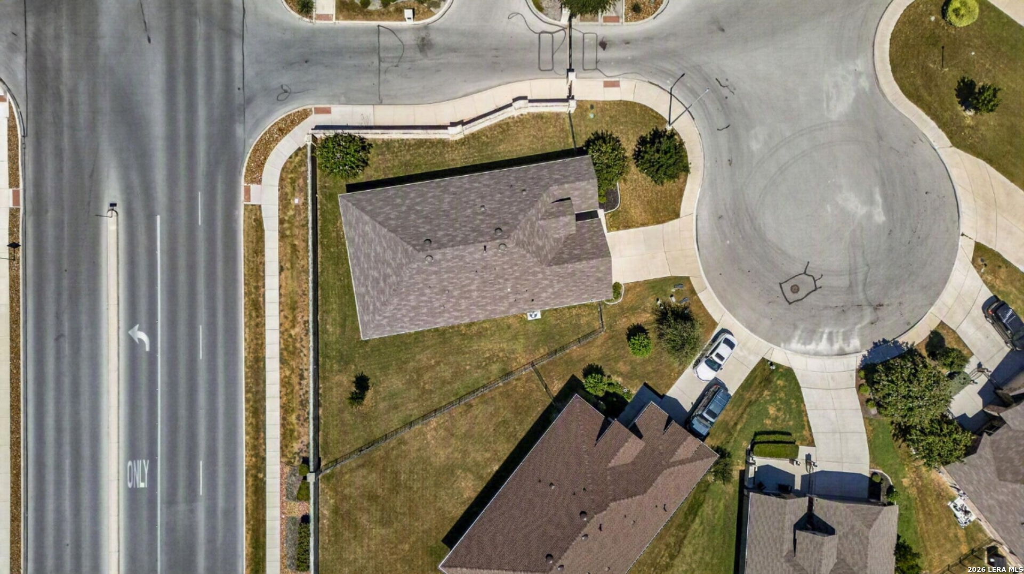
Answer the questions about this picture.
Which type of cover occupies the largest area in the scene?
paved ground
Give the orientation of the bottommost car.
diagonally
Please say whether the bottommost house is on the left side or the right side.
right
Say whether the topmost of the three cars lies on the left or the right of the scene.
right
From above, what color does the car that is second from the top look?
white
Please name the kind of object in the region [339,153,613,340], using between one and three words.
house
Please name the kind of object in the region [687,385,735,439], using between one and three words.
car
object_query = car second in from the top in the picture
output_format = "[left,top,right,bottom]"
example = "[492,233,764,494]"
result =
[695,328,741,381]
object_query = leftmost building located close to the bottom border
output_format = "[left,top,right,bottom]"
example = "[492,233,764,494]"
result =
[436,393,720,574]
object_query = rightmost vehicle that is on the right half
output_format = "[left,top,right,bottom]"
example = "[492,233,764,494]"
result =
[986,299,1024,354]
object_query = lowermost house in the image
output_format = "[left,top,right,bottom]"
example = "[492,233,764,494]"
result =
[739,489,898,574]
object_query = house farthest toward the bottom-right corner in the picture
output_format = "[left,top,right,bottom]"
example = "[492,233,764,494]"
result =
[938,403,1024,574]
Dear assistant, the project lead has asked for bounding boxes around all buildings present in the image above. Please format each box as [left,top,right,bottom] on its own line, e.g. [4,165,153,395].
[739,489,898,574]
[339,153,613,340]
[436,393,720,574]
[938,403,1024,574]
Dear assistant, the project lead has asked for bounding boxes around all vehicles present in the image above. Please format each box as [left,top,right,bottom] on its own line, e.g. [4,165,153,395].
[695,328,741,381]
[687,385,735,439]
[986,299,1024,354]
